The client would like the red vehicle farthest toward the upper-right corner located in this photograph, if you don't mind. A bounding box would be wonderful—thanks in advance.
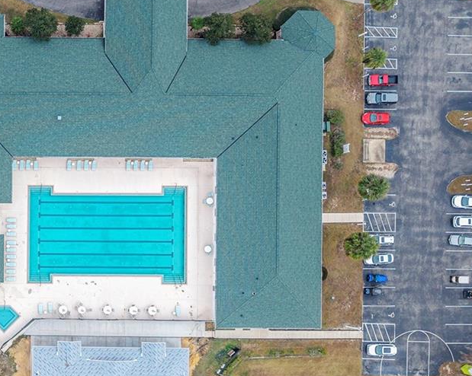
[366,73,398,87]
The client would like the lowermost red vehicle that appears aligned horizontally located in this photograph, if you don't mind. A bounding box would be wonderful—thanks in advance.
[360,112,390,125]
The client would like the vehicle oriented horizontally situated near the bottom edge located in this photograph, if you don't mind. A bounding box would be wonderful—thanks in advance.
[366,343,398,358]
